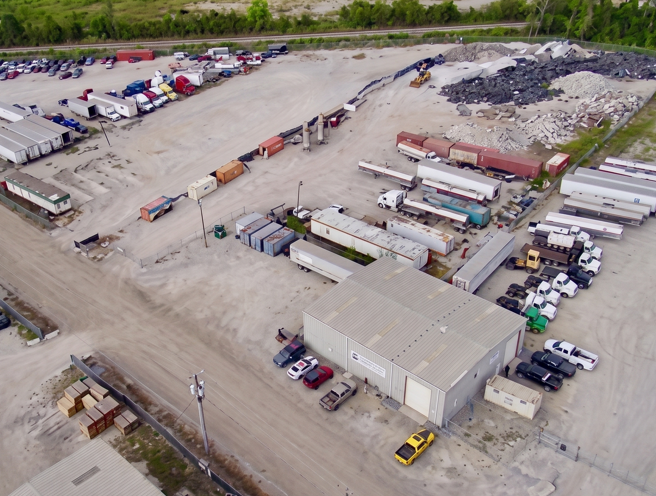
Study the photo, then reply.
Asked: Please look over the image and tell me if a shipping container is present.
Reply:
Yes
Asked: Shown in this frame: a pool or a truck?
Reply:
truck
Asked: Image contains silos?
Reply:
Yes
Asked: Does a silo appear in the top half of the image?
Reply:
Yes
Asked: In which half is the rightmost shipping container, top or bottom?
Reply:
top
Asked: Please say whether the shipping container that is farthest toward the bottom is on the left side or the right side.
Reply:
right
